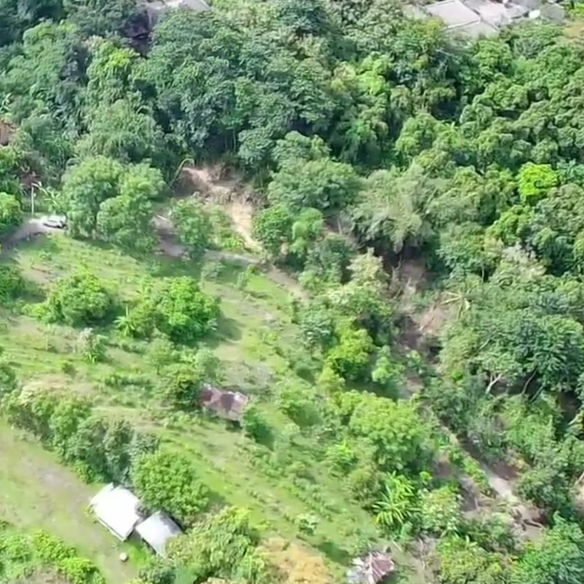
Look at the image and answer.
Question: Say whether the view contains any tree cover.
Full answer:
Yes, the picture does contain tree cover.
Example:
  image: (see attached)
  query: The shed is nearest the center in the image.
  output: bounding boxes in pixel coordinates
[198,385,252,425]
